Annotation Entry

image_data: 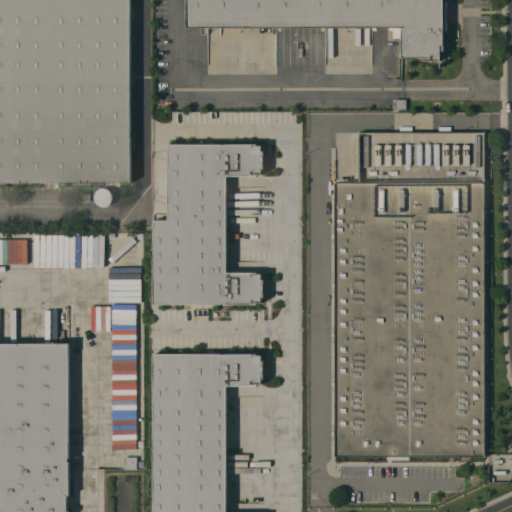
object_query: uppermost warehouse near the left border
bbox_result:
[0,0,134,184]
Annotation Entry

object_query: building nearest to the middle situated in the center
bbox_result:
[152,144,262,304]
